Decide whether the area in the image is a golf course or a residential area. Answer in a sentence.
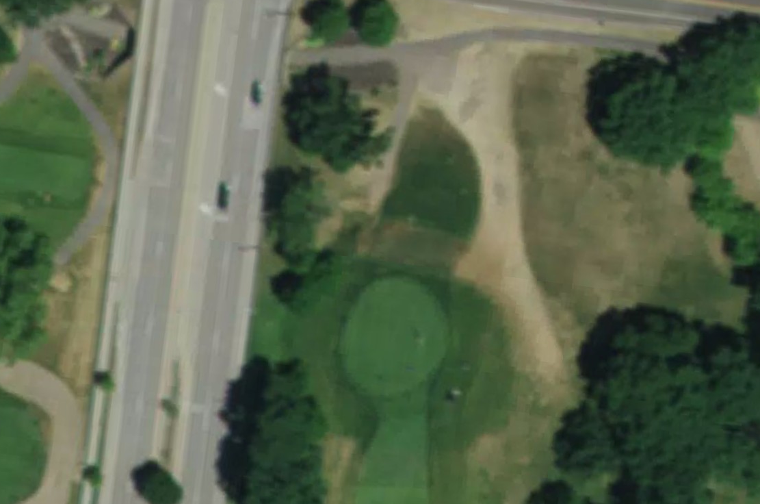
It's a golf course.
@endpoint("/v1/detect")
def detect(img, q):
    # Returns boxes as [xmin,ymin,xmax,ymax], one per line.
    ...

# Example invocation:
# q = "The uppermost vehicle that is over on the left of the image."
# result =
[249,78,263,105]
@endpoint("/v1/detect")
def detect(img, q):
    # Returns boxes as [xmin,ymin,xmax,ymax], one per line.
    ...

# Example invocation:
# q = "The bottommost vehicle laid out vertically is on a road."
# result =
[216,181,230,210]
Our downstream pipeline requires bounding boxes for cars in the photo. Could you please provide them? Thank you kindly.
[249,78,263,105]
[216,181,230,210]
